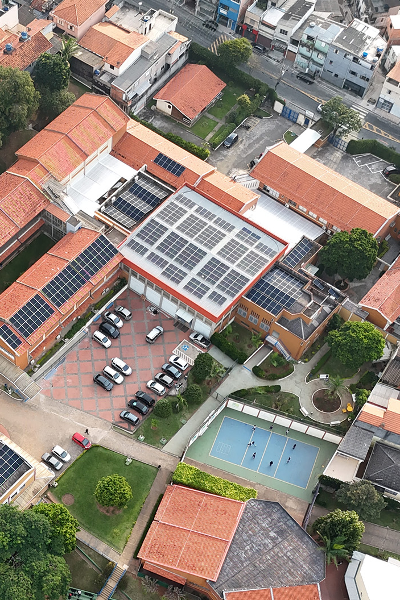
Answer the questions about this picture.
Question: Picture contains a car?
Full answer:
Yes, a car appears in the view.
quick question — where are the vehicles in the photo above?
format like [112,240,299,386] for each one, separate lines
[169,356,190,372]
[50,445,73,464]
[94,375,113,391]
[111,355,132,376]
[161,364,183,380]
[313,102,330,115]
[103,365,123,385]
[134,390,157,408]
[146,326,164,344]
[93,332,112,348]
[297,71,314,85]
[40,452,64,470]
[103,312,124,328]
[114,305,133,322]
[71,434,92,450]
[120,411,141,427]
[146,380,168,398]
[128,399,150,417]
[154,374,176,389]
[188,333,213,350]
[202,21,220,32]
[99,321,120,338]
[223,133,239,148]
